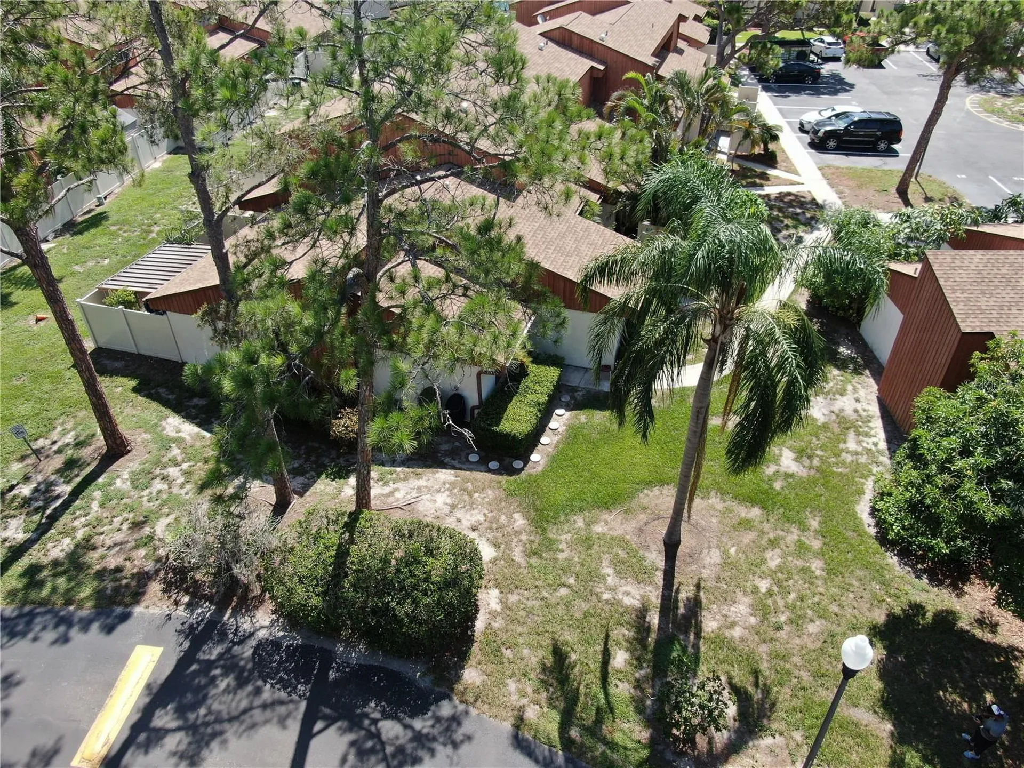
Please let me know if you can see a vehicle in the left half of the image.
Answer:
No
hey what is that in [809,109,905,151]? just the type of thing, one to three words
car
